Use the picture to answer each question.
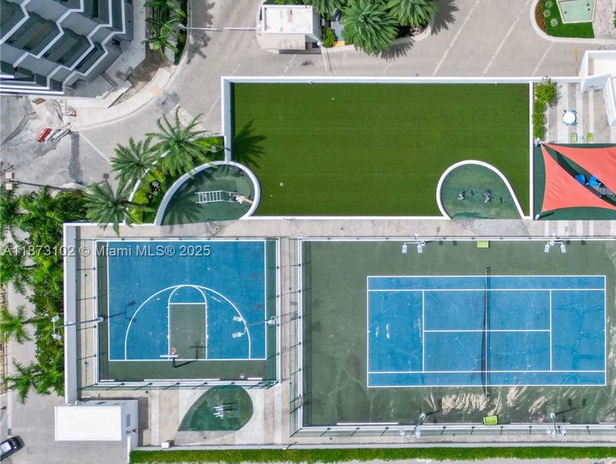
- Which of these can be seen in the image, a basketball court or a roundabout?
basketball court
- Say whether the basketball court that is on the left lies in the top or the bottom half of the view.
bottom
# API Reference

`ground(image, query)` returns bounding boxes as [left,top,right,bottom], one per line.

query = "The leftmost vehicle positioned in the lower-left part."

[0,434,25,461]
